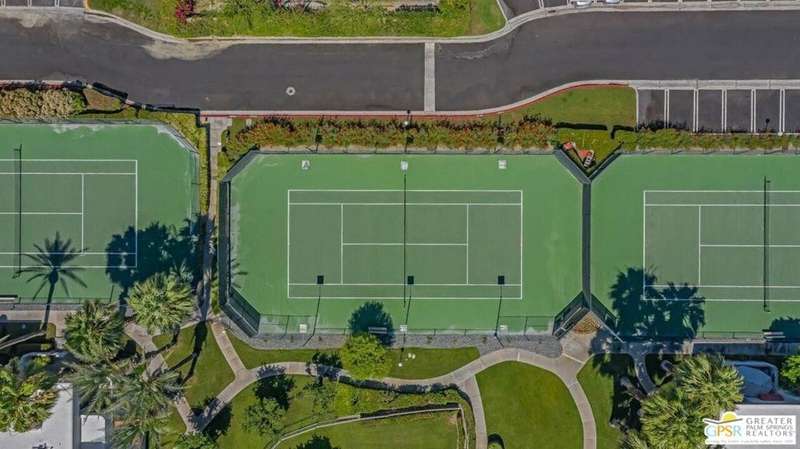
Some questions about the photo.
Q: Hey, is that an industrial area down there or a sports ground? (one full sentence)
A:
It's a sports ground.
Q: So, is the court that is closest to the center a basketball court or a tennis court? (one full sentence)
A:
From above, the court that is closest to the center can be identified as a tennis court.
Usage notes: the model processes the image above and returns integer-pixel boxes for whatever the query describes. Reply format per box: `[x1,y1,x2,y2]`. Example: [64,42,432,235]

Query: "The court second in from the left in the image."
[229,154,583,334]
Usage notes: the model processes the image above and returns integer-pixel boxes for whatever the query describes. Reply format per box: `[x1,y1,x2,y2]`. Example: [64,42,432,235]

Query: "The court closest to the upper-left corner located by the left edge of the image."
[0,123,198,302]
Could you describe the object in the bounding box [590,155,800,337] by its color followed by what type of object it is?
green tennis court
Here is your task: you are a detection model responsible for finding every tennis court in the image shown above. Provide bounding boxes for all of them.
[229,154,583,334]
[0,123,198,302]
[590,155,800,337]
